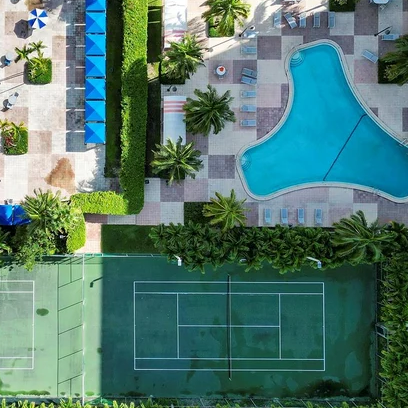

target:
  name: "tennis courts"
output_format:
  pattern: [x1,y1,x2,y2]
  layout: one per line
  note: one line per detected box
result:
[0,254,84,398]
[84,254,377,398]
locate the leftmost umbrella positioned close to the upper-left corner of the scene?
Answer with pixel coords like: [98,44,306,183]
[28,9,49,30]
